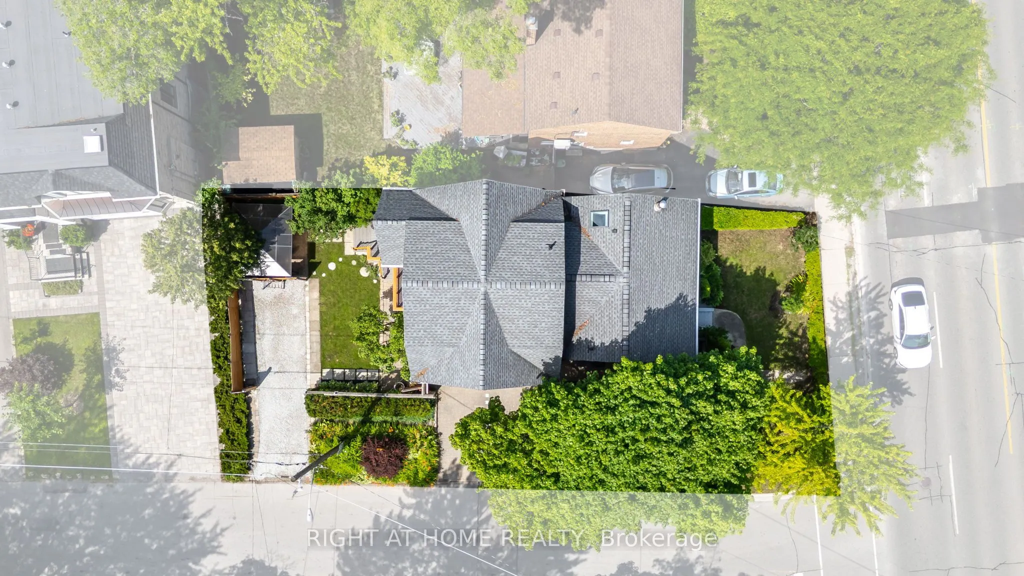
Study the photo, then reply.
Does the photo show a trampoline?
No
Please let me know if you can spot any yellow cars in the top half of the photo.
No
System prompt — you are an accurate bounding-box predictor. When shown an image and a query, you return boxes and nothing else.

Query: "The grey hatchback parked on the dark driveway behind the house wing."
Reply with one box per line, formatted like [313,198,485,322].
[584,154,677,196]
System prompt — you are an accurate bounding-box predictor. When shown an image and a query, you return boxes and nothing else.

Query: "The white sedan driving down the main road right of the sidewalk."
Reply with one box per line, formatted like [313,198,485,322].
[888,282,938,371]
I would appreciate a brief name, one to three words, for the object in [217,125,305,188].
shed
